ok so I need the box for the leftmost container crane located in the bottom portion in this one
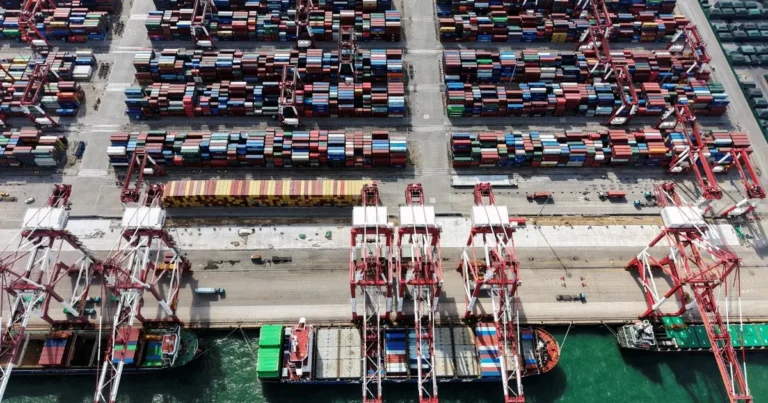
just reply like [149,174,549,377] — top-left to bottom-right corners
[0,181,104,403]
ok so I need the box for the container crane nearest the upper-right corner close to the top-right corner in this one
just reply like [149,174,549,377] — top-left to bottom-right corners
[668,26,714,83]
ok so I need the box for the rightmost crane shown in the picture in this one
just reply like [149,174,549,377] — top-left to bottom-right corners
[711,147,768,216]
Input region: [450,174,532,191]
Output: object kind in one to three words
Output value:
shed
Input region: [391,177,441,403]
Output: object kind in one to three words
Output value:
container crane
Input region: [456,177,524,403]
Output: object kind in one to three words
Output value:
container crane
